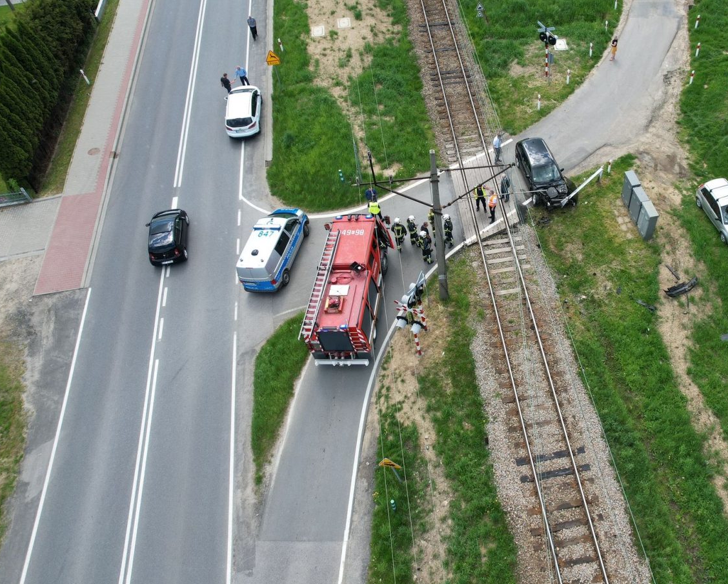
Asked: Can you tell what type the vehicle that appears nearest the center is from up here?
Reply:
truck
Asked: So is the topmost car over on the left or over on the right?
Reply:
left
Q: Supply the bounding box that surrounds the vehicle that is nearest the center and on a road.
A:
[298,214,402,374]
